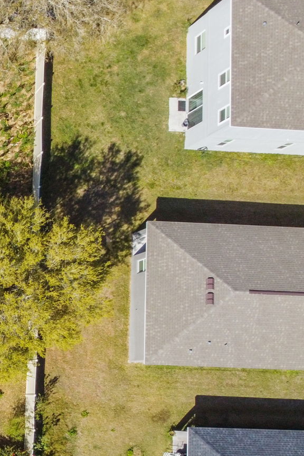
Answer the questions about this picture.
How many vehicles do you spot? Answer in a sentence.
The photo contains no vehicles.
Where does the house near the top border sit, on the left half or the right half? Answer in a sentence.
It is on the right.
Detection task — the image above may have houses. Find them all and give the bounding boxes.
[168,426,304,456]
[189,0,304,149]
[129,221,304,369]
